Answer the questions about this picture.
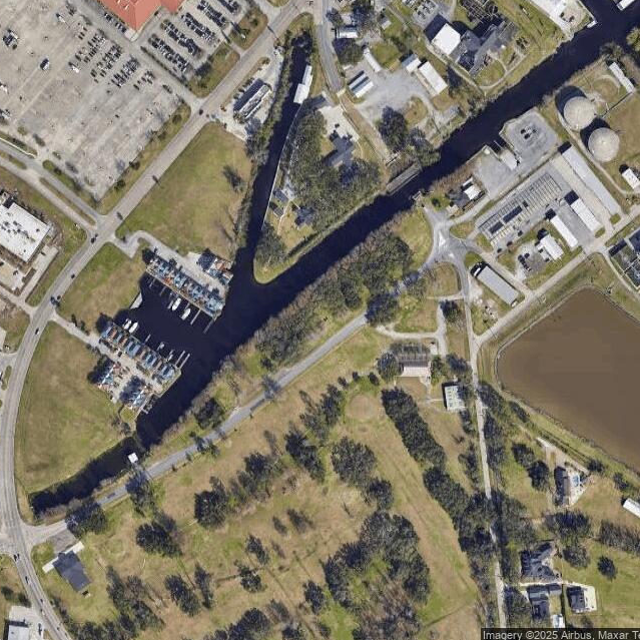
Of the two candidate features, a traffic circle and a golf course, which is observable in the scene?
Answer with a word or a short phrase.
golf course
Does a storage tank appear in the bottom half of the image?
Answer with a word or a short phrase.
No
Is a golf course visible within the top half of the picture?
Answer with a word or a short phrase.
No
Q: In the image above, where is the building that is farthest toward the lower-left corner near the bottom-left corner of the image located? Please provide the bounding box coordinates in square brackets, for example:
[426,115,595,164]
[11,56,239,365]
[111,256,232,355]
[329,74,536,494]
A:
[7,622,30,640]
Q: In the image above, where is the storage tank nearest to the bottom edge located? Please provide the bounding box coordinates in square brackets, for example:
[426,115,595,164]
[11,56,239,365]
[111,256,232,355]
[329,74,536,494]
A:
[588,129,620,161]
